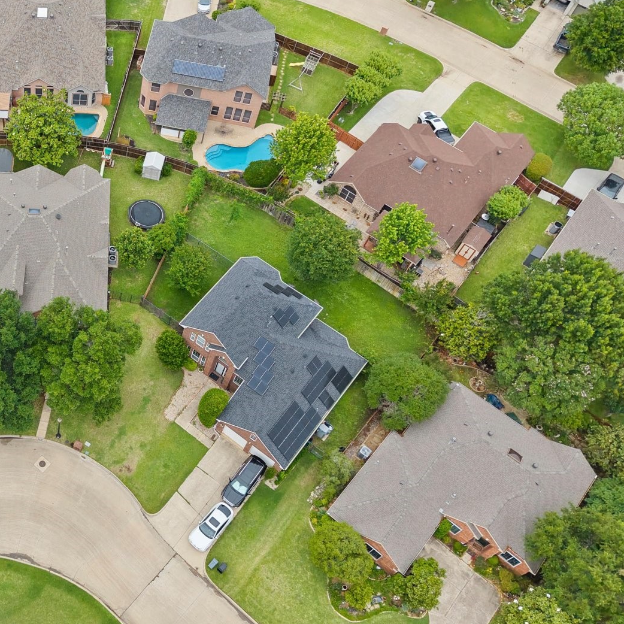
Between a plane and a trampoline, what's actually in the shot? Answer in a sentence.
Of the two, only a trampoline appears.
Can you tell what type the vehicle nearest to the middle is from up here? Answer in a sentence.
Looking closely, the vehicle nearest to the middle is a car.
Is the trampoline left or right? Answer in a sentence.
The trampoline sits on the left side.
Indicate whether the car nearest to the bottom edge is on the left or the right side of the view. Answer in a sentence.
It is on the left.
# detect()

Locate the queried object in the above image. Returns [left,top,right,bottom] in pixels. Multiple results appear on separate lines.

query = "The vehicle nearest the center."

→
[220,453,271,507]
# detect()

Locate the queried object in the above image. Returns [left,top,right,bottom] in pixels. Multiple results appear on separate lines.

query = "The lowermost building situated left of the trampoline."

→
[0,150,110,326]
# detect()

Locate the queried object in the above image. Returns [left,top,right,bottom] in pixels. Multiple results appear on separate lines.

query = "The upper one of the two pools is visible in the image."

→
[73,110,102,134]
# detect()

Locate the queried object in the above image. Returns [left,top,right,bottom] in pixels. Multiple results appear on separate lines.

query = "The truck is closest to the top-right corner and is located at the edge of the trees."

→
[552,17,580,52]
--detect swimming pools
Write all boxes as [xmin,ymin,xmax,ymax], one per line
[73,110,102,134]
[204,132,281,172]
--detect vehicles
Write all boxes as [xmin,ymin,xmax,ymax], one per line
[196,0,214,16]
[598,171,624,201]
[552,17,580,52]
[413,110,460,145]
[220,453,271,507]
[188,499,240,556]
